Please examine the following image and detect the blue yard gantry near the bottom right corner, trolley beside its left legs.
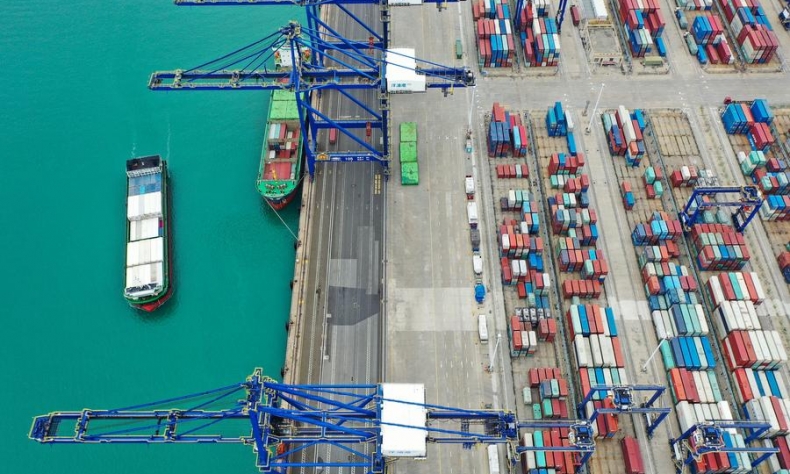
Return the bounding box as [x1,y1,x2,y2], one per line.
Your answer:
[673,417,777,471]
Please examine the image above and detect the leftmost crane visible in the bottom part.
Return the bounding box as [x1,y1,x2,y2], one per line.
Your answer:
[29,367,522,474]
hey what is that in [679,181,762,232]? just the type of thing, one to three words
container crane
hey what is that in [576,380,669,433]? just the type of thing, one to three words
container crane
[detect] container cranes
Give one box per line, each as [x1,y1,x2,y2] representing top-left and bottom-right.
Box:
[148,20,476,185]
[175,0,468,98]
[29,367,522,474]
[673,417,777,471]
[509,416,597,470]
[514,0,566,29]
[576,380,669,433]
[679,181,762,232]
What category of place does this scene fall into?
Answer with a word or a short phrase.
port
